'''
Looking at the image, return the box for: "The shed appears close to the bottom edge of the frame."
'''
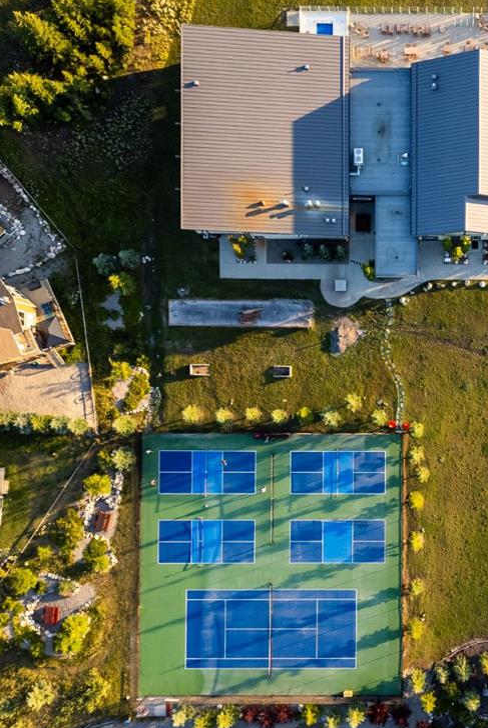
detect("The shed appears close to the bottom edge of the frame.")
[138,696,181,720]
